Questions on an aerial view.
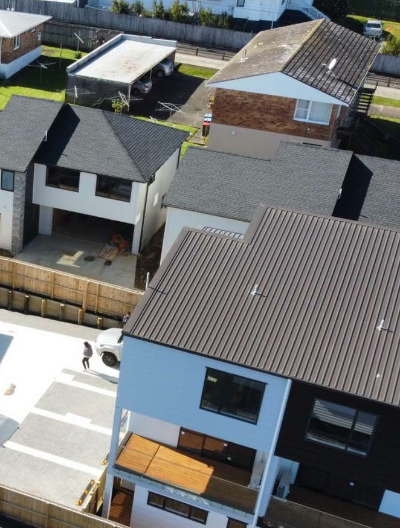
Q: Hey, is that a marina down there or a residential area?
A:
residential area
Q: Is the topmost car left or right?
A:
right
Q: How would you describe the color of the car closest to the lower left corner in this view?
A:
white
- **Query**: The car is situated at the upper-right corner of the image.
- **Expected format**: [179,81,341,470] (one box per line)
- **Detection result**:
[365,16,388,39]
